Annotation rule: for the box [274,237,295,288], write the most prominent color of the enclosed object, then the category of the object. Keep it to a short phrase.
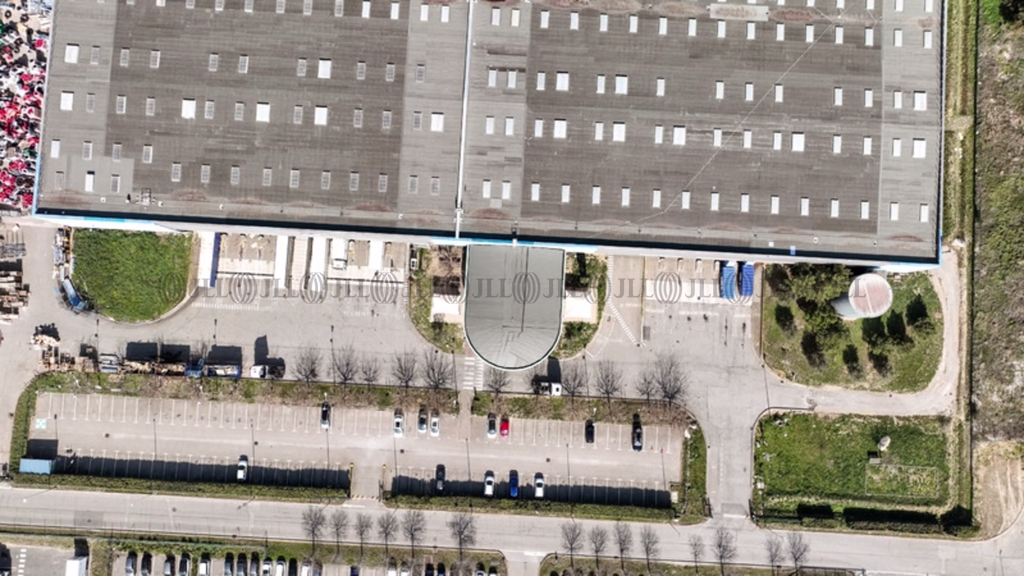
white trailer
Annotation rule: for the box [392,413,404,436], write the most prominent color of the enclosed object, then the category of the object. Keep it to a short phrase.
white vehicle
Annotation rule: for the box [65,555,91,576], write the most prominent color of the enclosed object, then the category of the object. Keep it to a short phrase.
white truck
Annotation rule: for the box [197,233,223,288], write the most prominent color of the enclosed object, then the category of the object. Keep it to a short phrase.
white trailer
